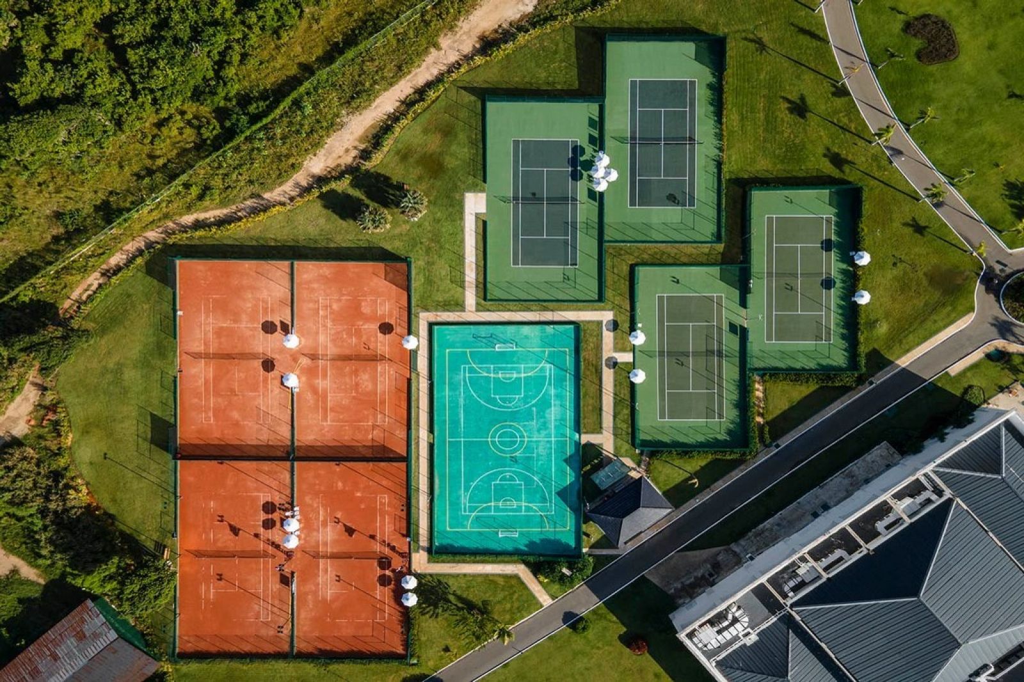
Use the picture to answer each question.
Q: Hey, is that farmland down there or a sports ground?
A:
sports ground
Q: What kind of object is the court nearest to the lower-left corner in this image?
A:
tennis court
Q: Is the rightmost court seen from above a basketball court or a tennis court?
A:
tennis court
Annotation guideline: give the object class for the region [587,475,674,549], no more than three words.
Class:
building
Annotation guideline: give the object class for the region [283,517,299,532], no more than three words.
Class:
umbrella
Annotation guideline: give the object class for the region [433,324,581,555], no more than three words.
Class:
sports court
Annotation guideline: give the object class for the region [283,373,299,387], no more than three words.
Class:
umbrella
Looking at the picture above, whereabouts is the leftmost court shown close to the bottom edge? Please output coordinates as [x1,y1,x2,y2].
[178,462,293,657]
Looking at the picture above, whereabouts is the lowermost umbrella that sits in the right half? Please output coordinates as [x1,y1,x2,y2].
[628,368,645,383]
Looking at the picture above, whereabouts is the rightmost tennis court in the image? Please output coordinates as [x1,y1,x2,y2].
[751,190,858,371]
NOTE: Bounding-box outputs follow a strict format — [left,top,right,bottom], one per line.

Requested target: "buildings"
[0,597,161,682]
[587,475,674,549]
[668,408,1024,682]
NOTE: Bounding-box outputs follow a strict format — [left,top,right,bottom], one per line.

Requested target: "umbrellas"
[590,165,606,179]
[853,251,869,266]
[283,334,299,348]
[594,151,610,166]
[592,178,608,192]
[603,167,619,182]
[629,330,645,344]
[283,517,299,532]
[402,592,417,607]
[401,574,417,590]
[283,534,299,549]
[402,335,418,350]
[854,290,870,304]
[283,373,299,387]
[628,368,645,383]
